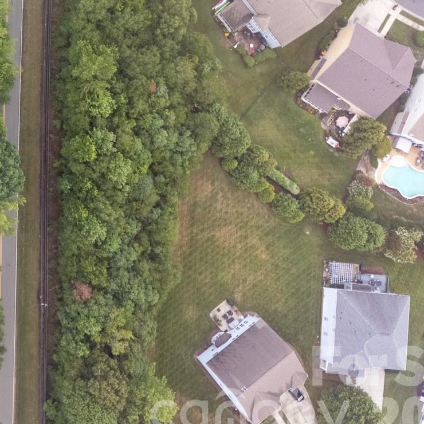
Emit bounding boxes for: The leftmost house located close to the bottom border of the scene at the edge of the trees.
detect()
[199,315,308,424]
